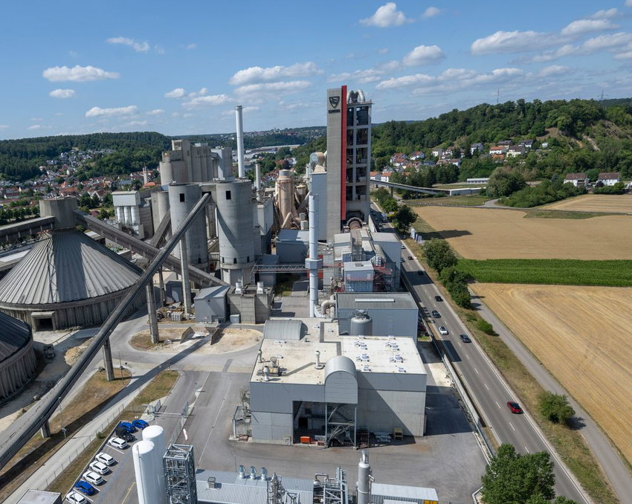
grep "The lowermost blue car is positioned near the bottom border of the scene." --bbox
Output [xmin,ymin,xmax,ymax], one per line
[74,480,96,496]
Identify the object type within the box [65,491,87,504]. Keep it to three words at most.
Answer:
vehicle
